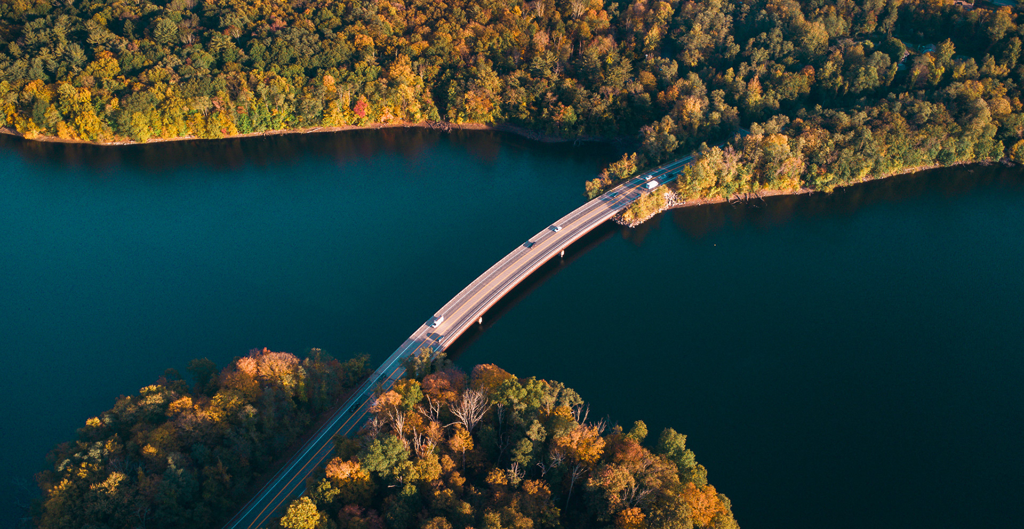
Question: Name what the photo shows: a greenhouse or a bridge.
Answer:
bridge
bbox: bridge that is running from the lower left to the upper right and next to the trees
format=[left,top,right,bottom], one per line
[378,197,625,381]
